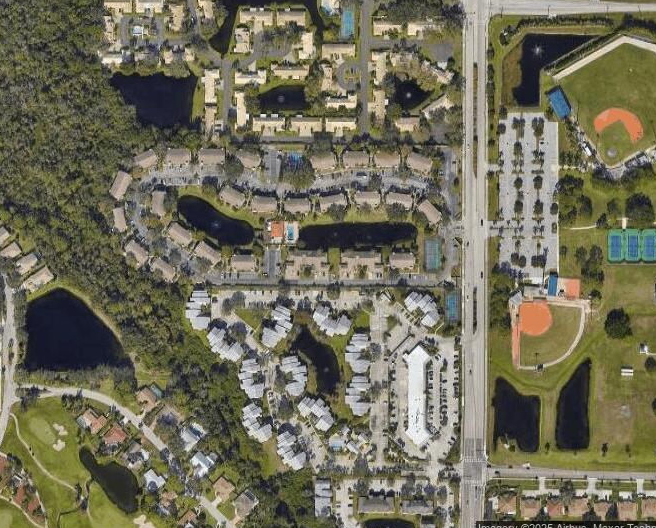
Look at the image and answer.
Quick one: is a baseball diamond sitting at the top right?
Yes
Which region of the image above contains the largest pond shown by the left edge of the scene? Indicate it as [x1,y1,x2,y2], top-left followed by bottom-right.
[24,287,132,371]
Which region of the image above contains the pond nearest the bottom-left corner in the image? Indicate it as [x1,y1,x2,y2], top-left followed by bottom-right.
[79,445,141,512]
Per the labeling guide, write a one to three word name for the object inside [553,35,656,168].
baseball field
